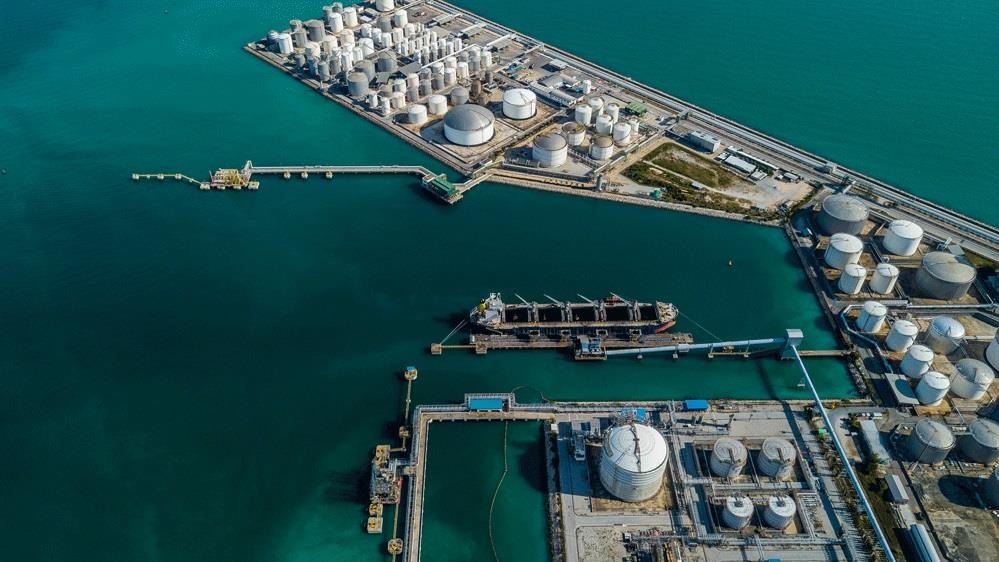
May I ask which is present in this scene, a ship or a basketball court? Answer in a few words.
ship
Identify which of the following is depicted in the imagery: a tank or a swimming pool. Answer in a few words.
tank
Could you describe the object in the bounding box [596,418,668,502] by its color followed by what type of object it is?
white storage tank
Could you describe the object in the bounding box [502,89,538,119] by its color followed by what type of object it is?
white storage tank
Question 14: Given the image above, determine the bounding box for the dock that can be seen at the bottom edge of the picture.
[408,411,557,562]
